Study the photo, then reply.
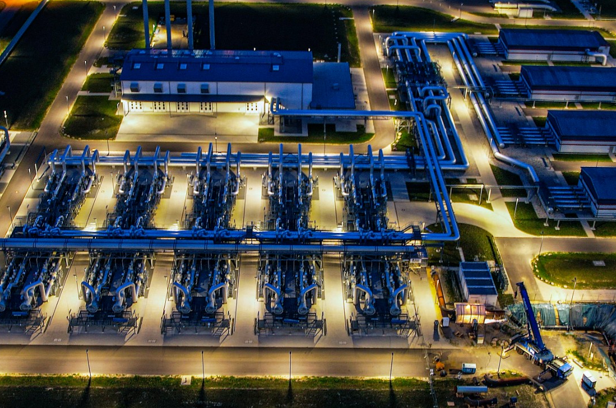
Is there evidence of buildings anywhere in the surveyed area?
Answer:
Yes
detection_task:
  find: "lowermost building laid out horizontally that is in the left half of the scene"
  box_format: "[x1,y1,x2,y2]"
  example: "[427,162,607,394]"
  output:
[118,49,313,116]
